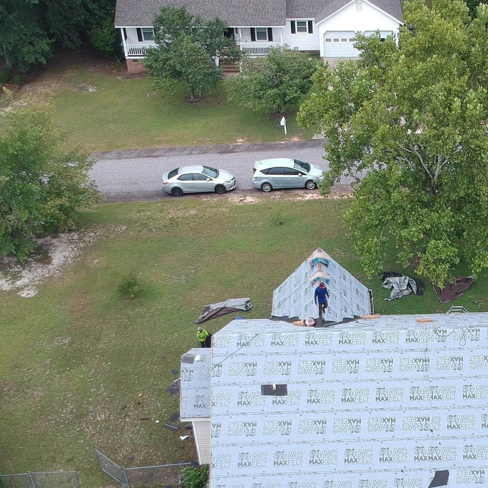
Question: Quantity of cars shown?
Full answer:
The picture shows 2 cars.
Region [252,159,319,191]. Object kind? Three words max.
car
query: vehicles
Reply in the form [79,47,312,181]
[252,159,319,191]
[160,166,236,196]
